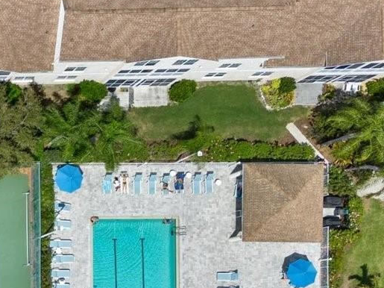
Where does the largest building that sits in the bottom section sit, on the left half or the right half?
right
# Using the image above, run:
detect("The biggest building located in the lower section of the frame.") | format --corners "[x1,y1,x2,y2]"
[226,162,323,244]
